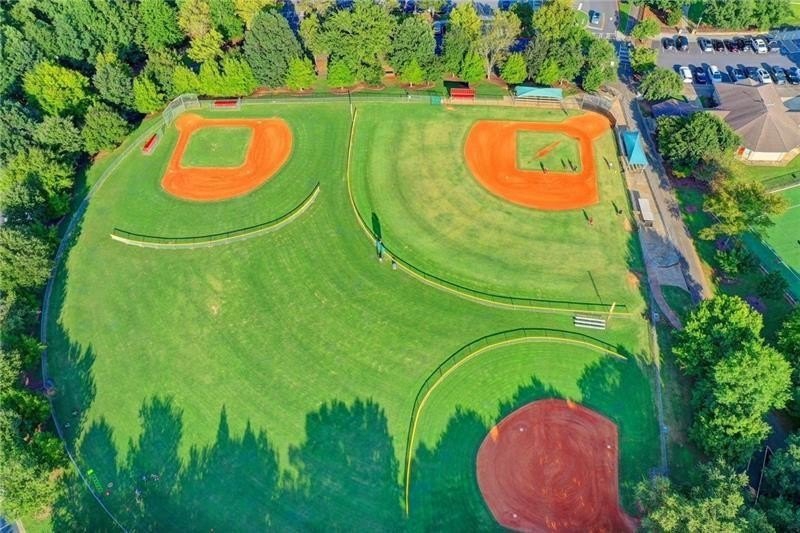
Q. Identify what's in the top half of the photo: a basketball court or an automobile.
automobile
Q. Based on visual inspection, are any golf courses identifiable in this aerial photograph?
No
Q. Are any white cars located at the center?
No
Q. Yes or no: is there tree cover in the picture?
Yes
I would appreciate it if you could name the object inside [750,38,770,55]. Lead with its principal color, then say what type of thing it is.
white car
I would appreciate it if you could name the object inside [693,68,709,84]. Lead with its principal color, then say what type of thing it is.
blue car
